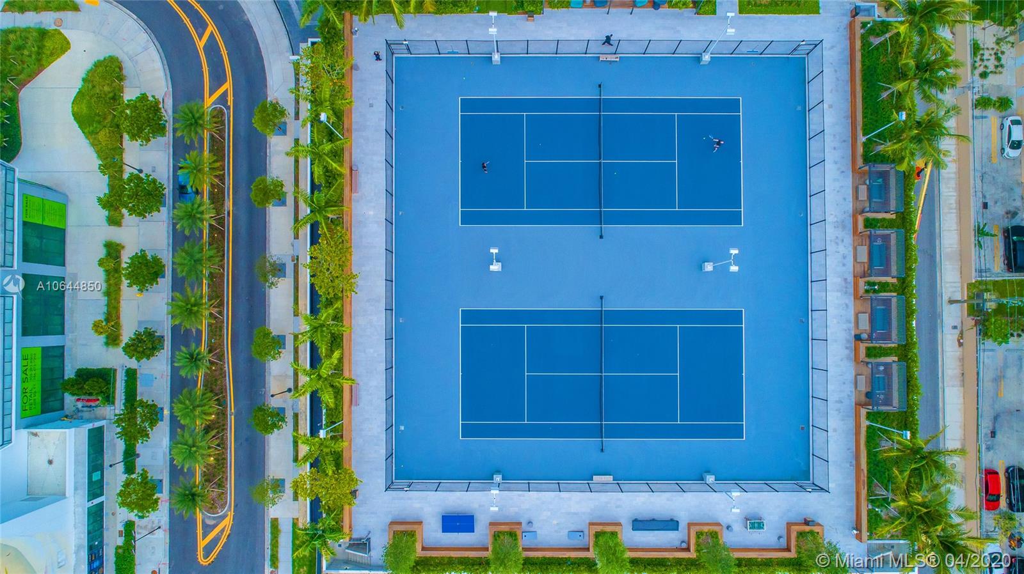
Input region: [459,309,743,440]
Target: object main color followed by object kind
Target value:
blue tennis court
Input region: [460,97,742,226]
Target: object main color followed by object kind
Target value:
blue tennis court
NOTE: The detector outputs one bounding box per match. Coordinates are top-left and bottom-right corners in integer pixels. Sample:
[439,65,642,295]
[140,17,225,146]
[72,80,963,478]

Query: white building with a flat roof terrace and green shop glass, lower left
[0,420,106,574]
